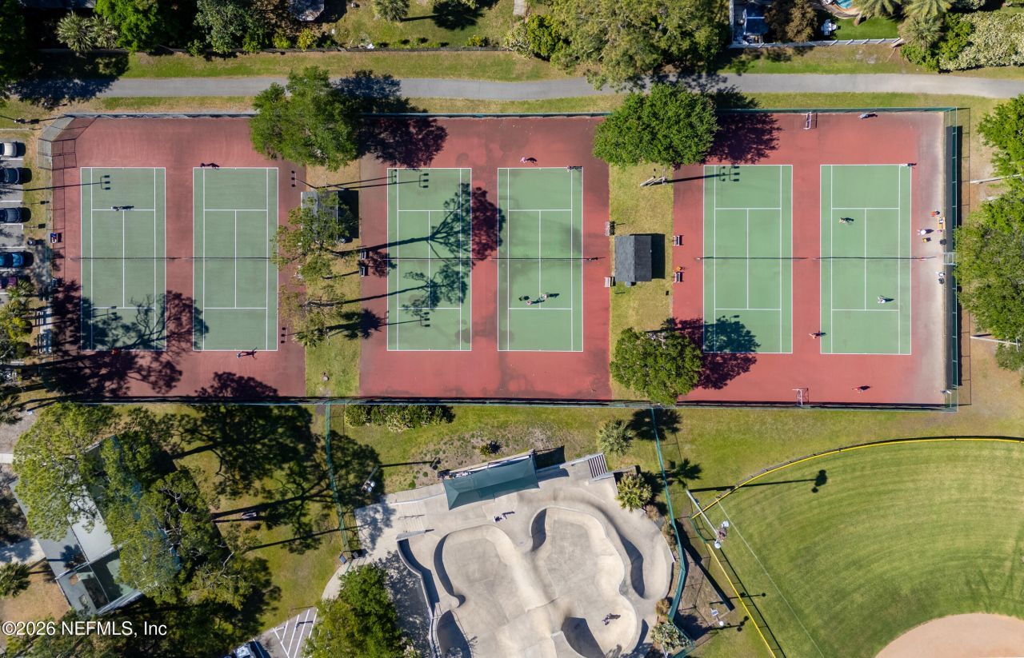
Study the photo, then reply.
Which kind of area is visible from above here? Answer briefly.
sports ground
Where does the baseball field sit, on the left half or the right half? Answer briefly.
right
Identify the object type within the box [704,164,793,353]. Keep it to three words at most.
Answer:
tennis court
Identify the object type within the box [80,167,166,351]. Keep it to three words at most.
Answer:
tennis court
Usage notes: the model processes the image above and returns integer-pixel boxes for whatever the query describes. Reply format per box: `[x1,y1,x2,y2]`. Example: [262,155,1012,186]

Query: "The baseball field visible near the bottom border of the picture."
[693,440,1024,658]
